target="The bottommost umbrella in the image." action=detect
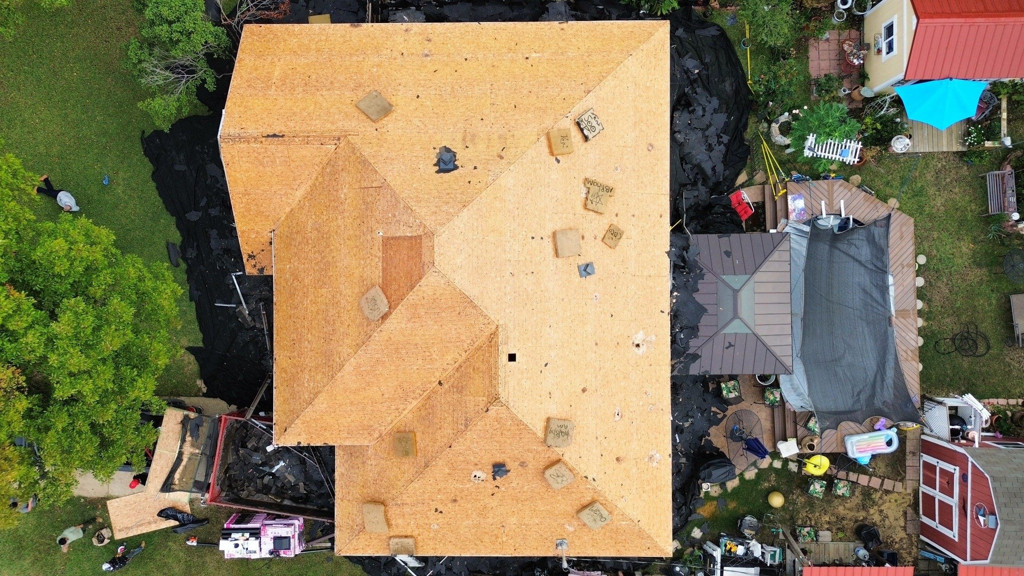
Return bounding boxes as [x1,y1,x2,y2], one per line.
[745,438,773,463]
